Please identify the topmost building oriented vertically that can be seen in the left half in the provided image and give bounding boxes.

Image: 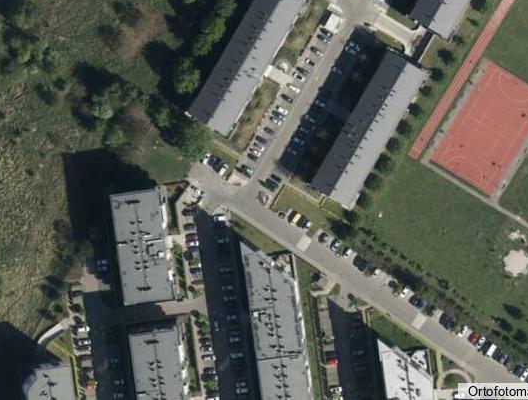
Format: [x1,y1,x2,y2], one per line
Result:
[109,187,178,305]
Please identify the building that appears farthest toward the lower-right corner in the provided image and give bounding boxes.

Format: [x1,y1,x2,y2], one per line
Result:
[377,334,433,400]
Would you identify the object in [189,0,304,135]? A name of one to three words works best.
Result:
building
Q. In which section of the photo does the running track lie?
top right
